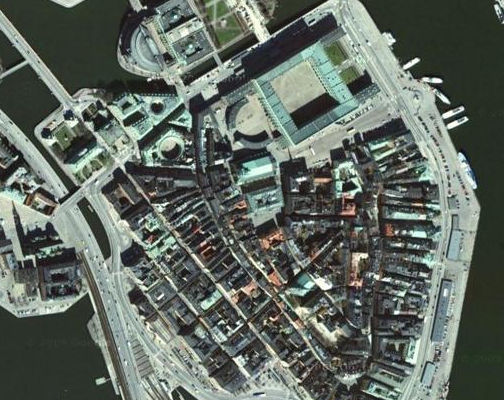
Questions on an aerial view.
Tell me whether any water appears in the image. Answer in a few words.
Yes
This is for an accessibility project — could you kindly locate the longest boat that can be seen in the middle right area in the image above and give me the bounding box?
[459,151,479,190]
